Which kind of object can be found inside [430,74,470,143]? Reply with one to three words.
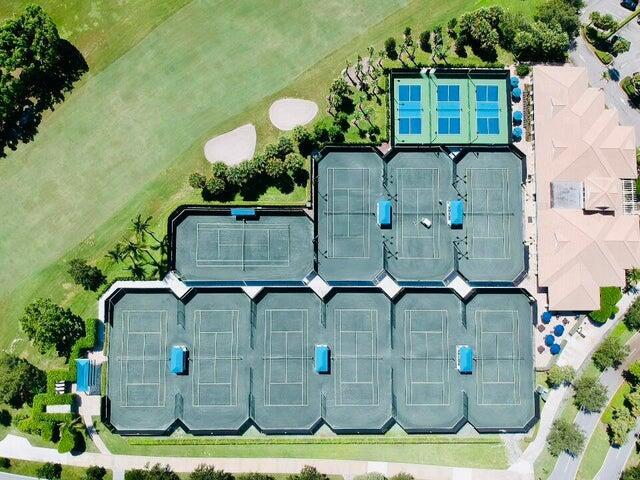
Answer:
sports court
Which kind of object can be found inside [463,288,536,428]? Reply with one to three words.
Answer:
tennis court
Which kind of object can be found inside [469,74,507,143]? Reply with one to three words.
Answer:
sports court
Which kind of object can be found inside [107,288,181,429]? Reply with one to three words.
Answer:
tennis court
